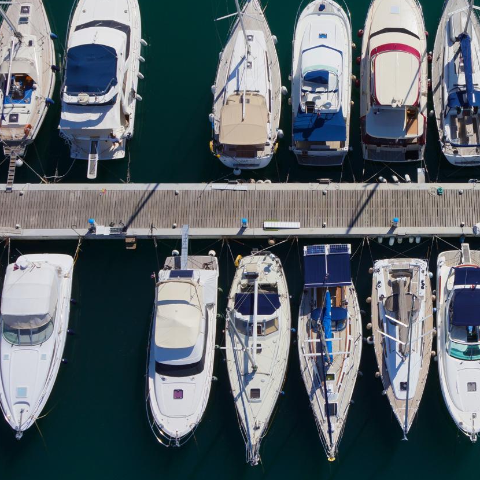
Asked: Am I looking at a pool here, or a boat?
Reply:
boat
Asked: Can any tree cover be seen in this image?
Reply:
No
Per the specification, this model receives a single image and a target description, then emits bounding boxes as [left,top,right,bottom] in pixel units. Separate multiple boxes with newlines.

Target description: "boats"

[370,254,435,442]
[430,0,480,167]
[146,225,220,447]
[290,0,354,166]
[60,0,142,178]
[434,244,480,442]
[0,248,78,440]
[297,245,361,463]
[220,248,290,465]
[360,0,428,163]
[212,0,281,167]
[0,0,53,191]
